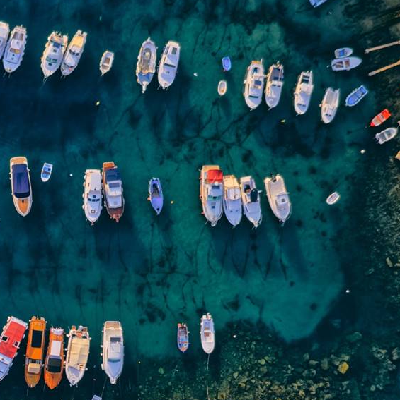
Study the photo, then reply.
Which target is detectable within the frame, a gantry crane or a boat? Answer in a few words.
boat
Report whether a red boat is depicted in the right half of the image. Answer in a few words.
Yes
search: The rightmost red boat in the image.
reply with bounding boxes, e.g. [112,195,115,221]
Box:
[370,109,391,125]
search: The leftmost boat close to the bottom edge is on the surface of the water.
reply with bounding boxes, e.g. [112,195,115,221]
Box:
[0,316,27,382]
